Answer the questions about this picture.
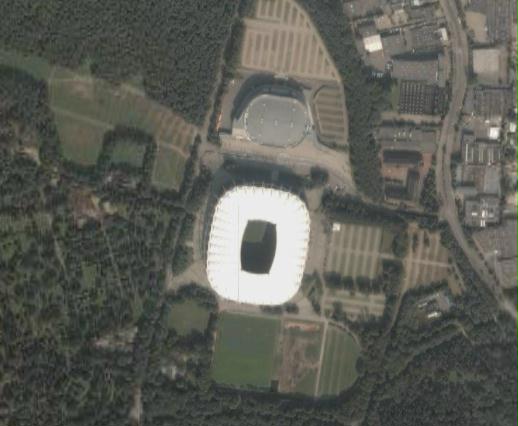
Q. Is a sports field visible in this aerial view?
Yes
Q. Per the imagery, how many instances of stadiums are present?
2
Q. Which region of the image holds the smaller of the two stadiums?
top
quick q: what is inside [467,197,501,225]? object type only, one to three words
building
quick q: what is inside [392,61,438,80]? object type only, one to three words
building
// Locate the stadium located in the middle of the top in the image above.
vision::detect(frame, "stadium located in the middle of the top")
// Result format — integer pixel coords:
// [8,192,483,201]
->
[233,75,312,148]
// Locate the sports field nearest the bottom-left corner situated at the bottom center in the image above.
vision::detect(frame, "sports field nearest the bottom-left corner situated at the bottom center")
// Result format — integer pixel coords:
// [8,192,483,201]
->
[212,313,280,389]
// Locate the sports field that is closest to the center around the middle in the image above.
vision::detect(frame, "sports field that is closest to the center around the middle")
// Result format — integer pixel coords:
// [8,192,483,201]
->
[241,220,276,274]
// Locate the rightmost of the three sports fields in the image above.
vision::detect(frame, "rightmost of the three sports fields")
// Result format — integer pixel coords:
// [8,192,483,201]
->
[319,324,360,396]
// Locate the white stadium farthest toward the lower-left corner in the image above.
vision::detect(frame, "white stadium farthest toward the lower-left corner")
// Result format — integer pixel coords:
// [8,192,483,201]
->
[204,183,313,309]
